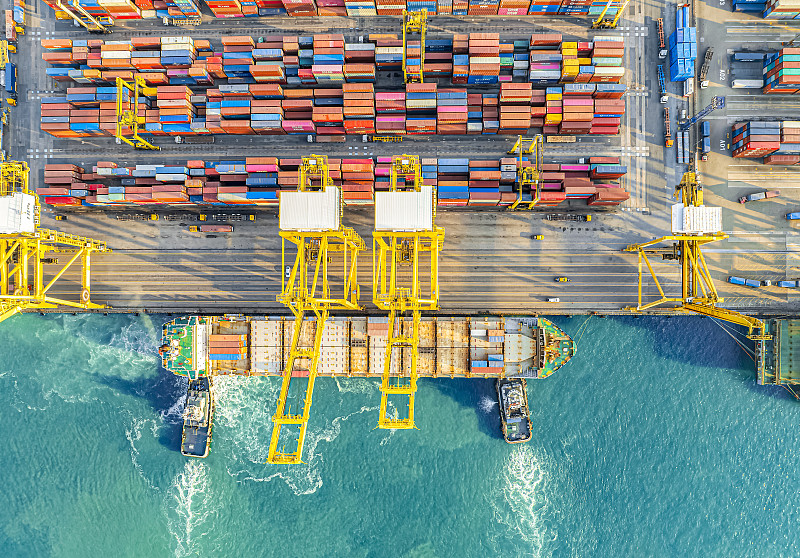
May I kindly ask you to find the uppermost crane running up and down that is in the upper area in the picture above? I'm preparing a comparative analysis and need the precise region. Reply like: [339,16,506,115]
[399,7,429,91]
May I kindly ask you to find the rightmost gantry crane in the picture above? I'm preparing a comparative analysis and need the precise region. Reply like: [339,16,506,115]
[620,172,788,353]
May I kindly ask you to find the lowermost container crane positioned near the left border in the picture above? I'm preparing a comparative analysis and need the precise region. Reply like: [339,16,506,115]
[0,162,102,317]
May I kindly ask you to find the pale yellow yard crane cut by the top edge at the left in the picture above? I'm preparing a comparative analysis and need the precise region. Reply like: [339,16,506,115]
[63,0,112,35]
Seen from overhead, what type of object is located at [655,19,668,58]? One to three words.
vehicle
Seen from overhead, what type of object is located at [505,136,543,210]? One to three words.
crane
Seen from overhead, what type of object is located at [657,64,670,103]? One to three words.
vehicle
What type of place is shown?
port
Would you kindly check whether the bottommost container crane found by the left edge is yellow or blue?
yellow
